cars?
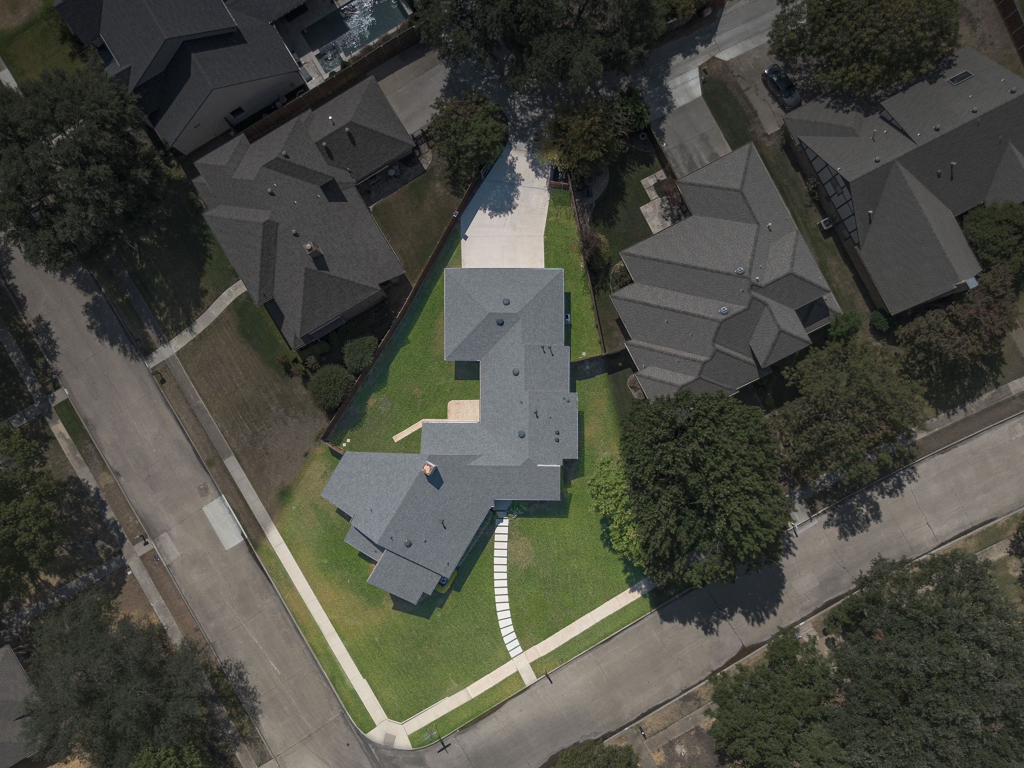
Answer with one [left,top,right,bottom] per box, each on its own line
[764,61,803,112]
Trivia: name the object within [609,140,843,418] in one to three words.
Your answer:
house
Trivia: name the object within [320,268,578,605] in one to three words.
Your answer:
house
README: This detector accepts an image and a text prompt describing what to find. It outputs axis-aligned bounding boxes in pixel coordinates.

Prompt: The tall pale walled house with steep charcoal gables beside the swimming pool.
[56,0,310,154]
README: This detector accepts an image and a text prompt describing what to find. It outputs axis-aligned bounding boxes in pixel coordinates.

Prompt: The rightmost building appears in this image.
[775,46,1024,316]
